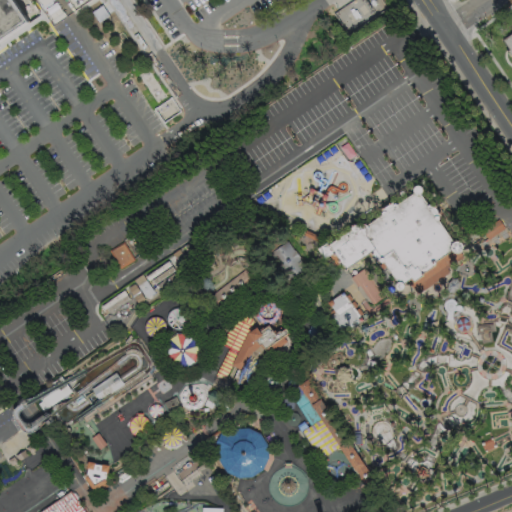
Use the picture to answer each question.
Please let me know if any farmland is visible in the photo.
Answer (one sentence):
No, the picture contains no farmland.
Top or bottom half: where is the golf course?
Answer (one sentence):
You can find the golf course in the bottom half.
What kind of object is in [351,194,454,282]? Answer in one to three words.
building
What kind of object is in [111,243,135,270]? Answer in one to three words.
building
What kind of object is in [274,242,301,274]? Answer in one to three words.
house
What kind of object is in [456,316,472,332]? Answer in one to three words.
umbrella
